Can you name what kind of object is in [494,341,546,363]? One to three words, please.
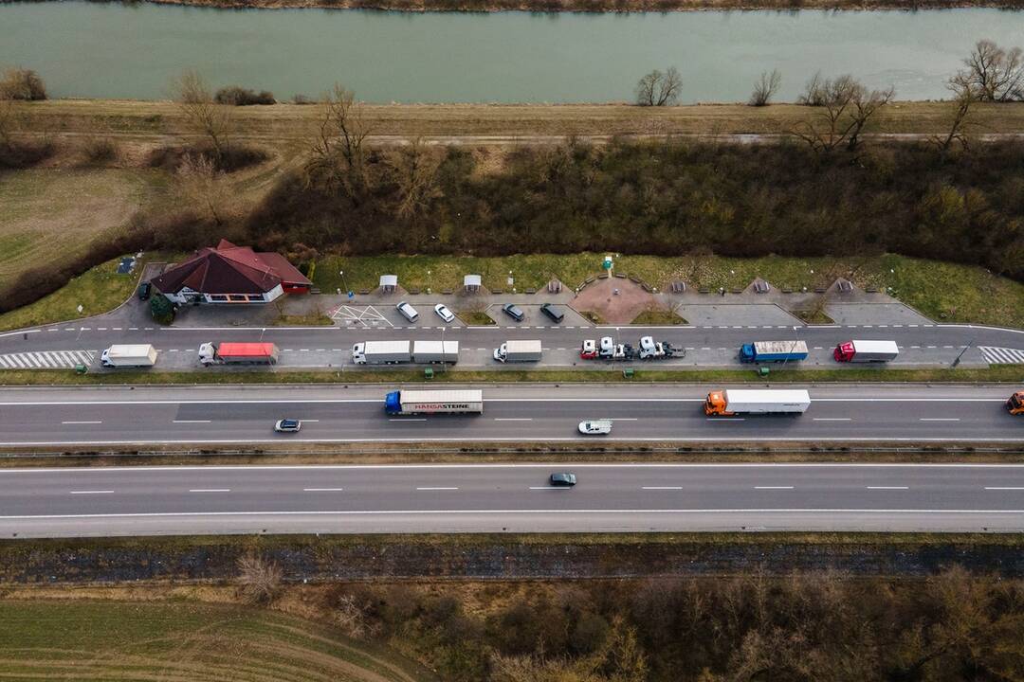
truck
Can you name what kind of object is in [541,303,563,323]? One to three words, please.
vehicle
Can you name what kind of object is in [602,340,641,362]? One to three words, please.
truck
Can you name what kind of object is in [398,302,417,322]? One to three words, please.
car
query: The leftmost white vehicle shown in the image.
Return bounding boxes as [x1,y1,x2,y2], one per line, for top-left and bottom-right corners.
[98,342,159,366]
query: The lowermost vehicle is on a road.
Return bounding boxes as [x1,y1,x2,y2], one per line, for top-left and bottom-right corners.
[549,472,577,486]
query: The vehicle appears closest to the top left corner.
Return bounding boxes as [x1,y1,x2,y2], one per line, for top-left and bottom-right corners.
[136,283,154,301]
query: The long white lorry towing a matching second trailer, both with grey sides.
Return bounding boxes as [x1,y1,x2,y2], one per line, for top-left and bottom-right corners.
[350,339,457,364]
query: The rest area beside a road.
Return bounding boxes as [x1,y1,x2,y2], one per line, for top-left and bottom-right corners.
[0,261,1024,373]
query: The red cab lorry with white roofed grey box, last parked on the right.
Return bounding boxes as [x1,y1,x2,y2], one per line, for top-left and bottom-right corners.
[832,338,900,362]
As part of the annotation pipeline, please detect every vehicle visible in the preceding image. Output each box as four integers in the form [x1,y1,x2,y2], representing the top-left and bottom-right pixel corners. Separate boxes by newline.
[98,342,159,366]
[549,472,577,486]
[738,339,808,363]
[384,389,482,414]
[641,339,690,363]
[579,420,615,434]
[1006,392,1024,415]
[136,283,154,301]
[504,303,524,322]
[541,303,563,323]
[350,339,457,364]
[273,419,300,433]
[602,340,641,362]
[832,338,900,362]
[435,303,453,322]
[398,302,417,322]
[197,342,278,365]
[705,390,811,415]
[581,342,618,363]
[494,341,546,363]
